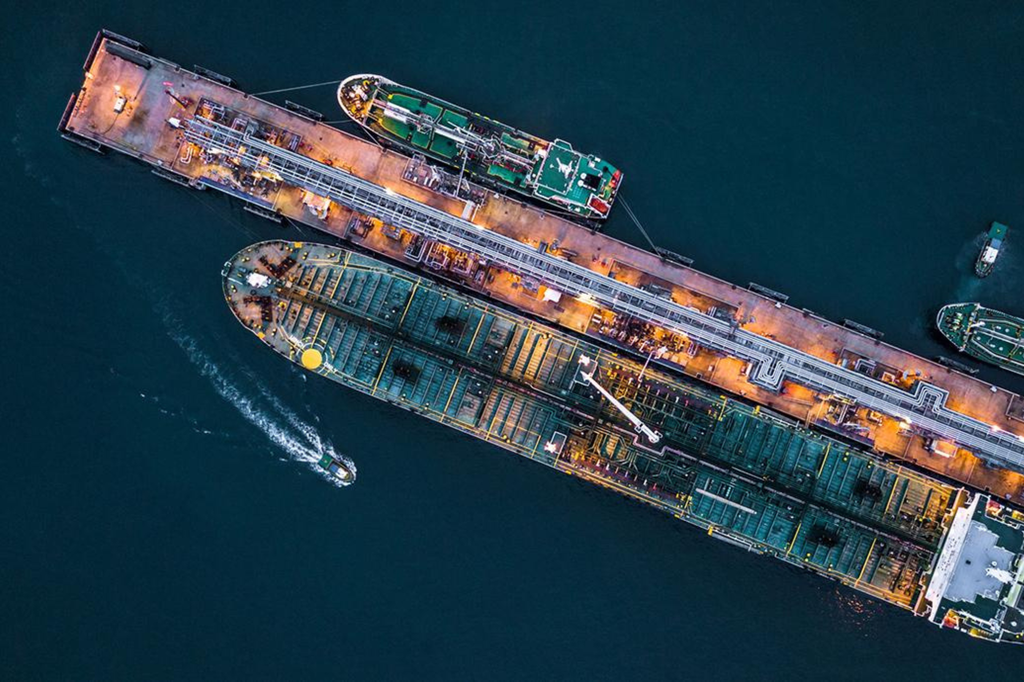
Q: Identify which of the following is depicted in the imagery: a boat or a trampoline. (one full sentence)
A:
Of the two, only a boat appears.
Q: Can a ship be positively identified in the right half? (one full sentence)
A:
Yes, in the right half there is a ship.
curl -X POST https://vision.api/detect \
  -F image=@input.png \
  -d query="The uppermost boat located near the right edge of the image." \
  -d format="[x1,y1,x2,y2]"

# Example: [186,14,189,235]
[976,221,1011,279]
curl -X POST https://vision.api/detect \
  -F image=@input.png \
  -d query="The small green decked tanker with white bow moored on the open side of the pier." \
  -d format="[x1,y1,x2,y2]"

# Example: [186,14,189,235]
[336,74,624,222]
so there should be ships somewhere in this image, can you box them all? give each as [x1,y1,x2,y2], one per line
[934,302,1024,377]
[336,74,624,222]
[221,236,1024,646]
